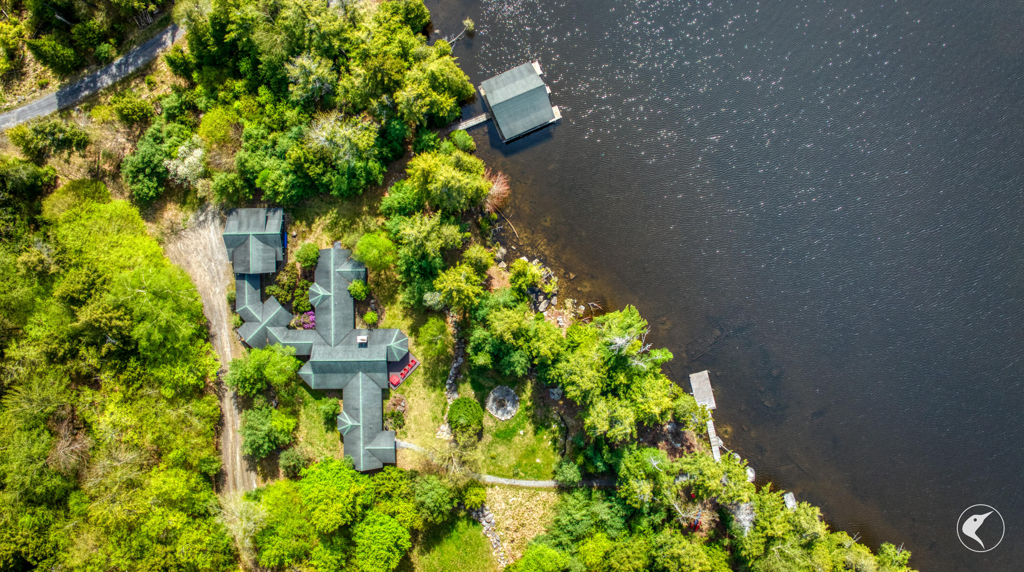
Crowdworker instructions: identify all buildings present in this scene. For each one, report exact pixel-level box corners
[478,60,562,144]
[236,248,421,471]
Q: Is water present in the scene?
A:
Yes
